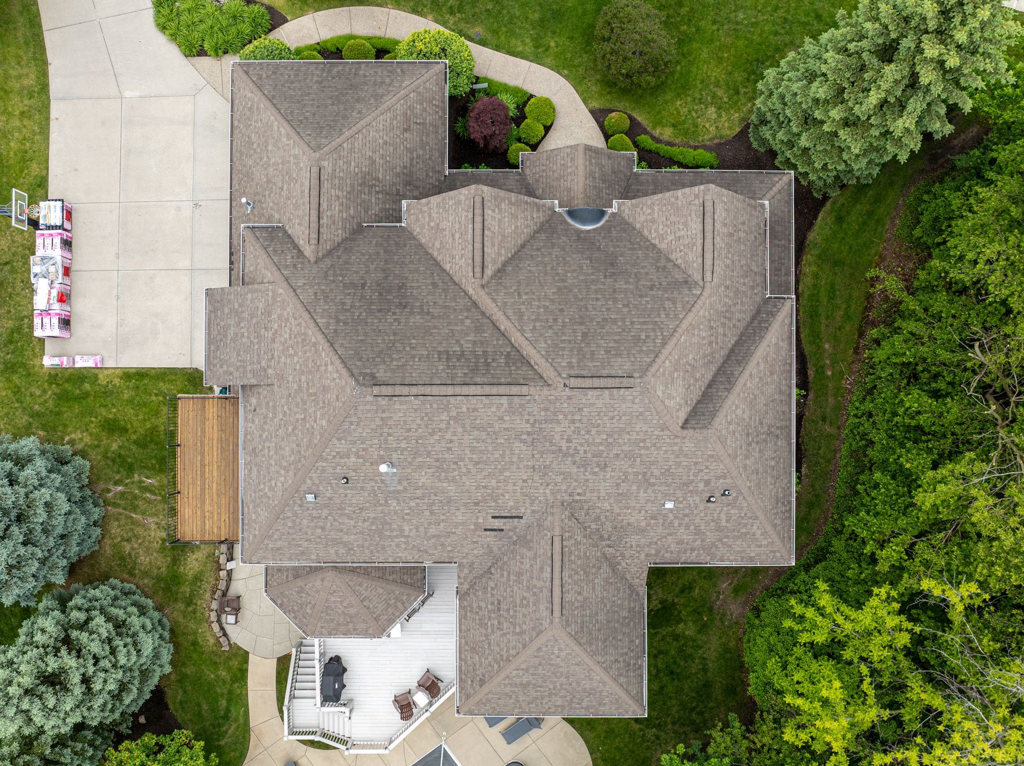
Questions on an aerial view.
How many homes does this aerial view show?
1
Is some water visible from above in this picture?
No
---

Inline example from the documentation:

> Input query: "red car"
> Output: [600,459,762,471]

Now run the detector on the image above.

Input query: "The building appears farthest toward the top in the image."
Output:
[206,61,794,715]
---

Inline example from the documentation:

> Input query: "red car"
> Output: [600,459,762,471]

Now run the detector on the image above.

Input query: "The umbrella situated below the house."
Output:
[420,733,465,766]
